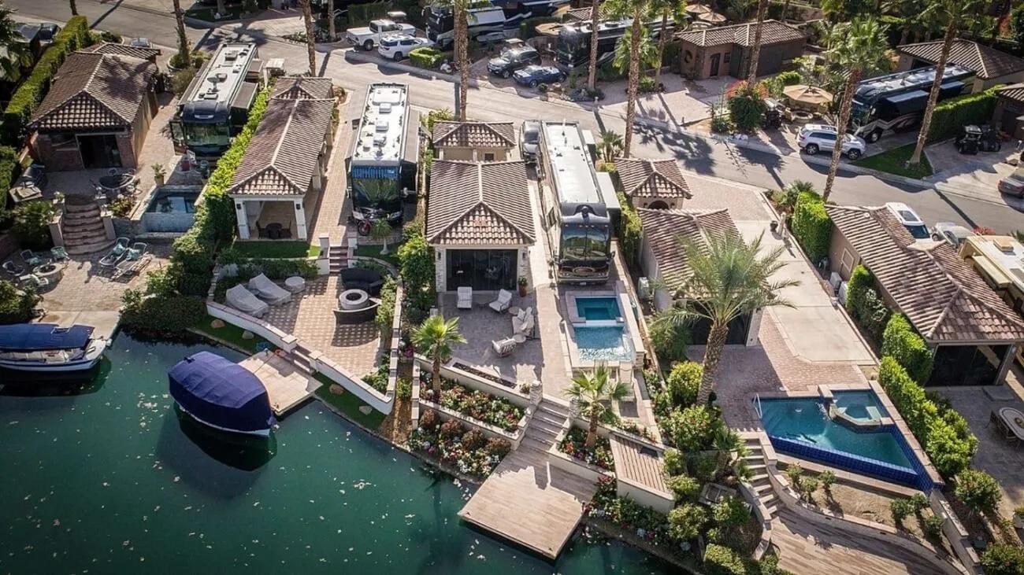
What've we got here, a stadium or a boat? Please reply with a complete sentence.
Looking from above, you can make out a boat.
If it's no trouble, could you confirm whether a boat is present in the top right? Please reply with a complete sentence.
No, no boat is visible in the top right.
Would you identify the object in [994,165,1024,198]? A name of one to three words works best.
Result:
car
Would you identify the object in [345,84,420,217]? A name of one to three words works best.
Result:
camper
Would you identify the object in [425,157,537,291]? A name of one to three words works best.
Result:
house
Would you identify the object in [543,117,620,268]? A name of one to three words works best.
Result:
camper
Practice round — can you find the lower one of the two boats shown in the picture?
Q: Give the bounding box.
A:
[163,356,290,440]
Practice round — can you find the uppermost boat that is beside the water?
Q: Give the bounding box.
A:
[0,317,105,375]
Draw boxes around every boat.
[0,317,105,375]
[163,356,290,440]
